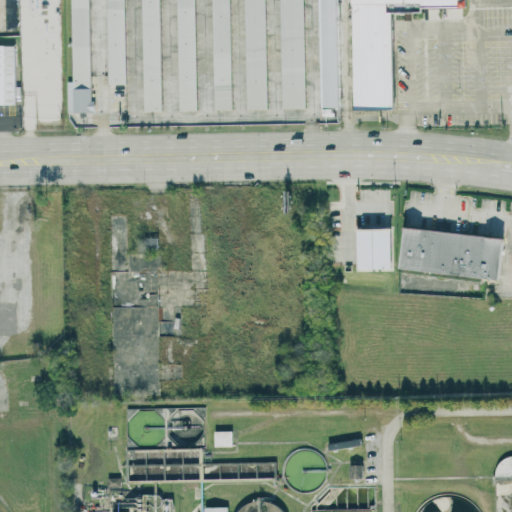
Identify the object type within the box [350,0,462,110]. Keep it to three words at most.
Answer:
building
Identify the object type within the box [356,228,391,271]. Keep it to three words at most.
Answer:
building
